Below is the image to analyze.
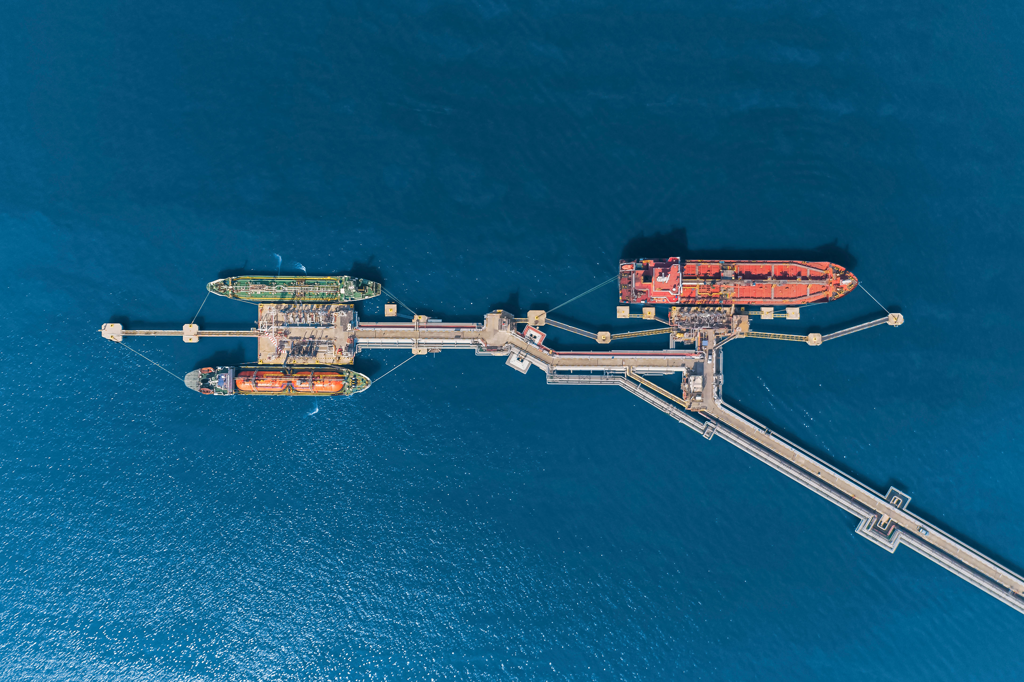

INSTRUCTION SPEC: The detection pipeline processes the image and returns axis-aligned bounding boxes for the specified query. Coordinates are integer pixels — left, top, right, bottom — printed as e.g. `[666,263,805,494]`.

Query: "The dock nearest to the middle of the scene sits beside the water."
[481,310,512,346]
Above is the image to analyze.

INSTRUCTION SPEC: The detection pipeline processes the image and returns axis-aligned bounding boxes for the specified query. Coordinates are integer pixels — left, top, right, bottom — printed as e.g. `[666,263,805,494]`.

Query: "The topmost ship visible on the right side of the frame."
[619,257,860,305]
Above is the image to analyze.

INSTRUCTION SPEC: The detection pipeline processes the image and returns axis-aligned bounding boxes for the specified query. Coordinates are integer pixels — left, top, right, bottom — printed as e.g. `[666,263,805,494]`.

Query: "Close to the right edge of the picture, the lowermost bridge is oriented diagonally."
[708,407,1024,595]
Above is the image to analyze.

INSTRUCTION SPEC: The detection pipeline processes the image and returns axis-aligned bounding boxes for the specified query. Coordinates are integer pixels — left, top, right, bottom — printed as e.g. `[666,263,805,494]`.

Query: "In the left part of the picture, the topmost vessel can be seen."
[207,276,381,302]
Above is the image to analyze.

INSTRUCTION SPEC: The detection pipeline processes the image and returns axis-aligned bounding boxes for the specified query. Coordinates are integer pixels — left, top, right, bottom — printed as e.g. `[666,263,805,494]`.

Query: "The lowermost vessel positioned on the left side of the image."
[184,366,371,396]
